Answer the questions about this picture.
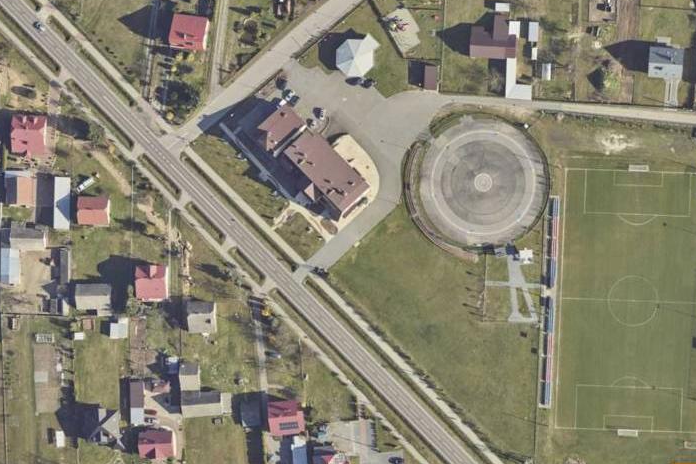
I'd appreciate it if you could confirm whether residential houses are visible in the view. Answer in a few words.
Yes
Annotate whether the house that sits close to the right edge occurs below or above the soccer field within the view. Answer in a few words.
above it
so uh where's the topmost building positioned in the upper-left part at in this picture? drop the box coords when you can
[168,12,211,53]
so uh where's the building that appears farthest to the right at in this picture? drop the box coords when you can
[647,46,684,80]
